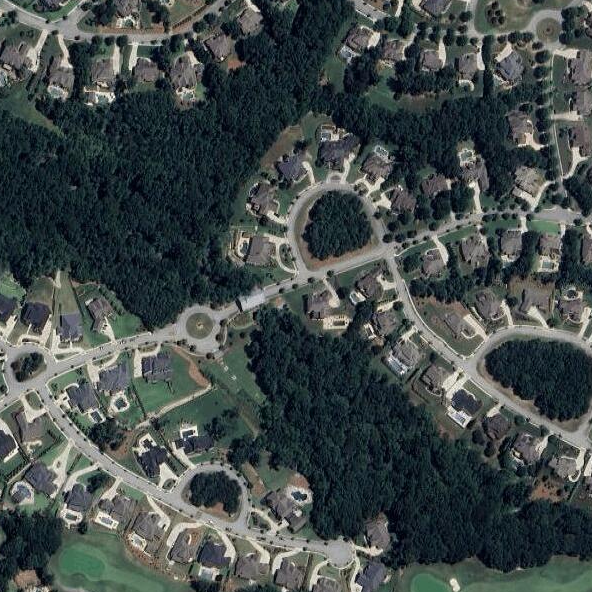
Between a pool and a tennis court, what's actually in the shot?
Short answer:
pool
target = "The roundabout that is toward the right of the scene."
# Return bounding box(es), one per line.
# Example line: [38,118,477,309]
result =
[529,12,568,48]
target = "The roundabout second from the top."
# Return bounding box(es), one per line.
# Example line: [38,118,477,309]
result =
[180,305,223,348]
